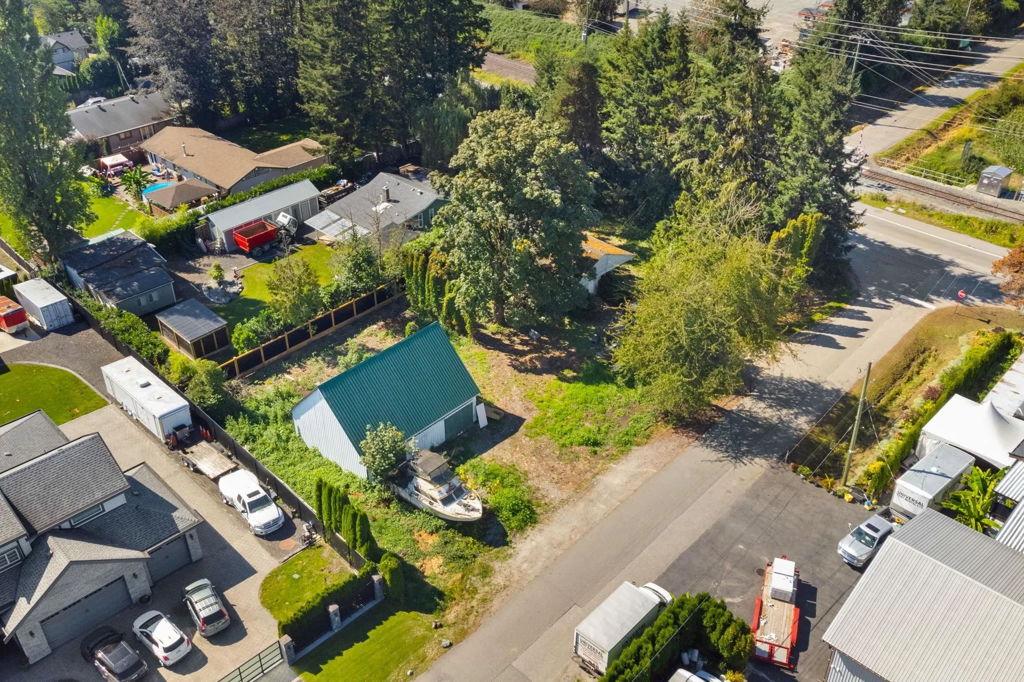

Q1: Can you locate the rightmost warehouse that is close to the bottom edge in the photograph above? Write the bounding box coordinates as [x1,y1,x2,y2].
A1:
[818,509,1024,682]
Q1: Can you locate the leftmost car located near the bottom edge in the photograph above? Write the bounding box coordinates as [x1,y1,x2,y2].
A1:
[75,635,145,682]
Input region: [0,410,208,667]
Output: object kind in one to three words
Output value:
house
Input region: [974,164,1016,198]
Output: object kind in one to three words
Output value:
house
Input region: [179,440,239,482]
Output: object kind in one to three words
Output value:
trailer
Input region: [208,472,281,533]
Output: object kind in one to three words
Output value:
truck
